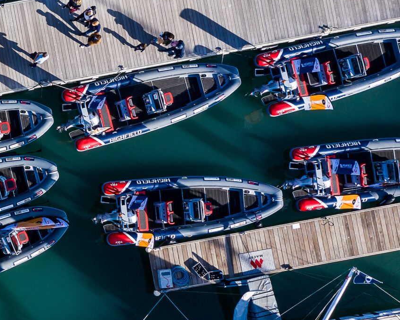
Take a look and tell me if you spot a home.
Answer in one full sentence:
No, the picture doesn't show any home.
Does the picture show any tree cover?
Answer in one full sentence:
No, tree cover can't be seen anywhere here.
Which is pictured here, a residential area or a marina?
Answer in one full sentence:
The picture captures a marina.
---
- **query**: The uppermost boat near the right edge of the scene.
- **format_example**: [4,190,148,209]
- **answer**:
[249,29,400,114]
